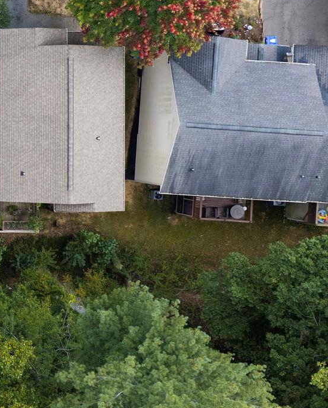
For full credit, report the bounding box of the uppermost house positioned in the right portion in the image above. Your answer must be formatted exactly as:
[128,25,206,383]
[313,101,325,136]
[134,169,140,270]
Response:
[126,42,328,204]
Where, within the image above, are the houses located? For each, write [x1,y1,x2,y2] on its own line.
[0,27,126,212]
[126,42,328,204]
